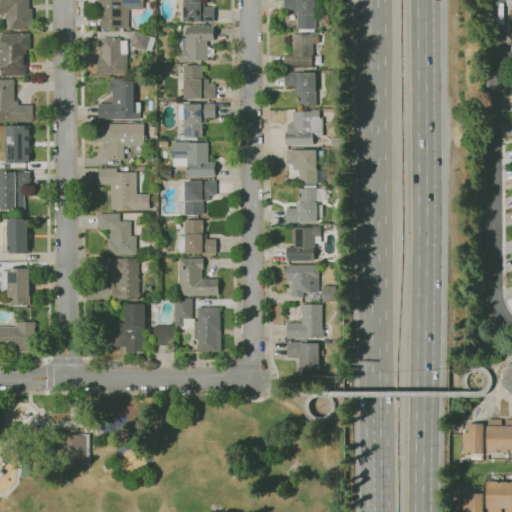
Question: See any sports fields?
No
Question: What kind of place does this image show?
residential area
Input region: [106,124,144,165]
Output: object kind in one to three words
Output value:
house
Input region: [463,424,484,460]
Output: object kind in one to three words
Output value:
building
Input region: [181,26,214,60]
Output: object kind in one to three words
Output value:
house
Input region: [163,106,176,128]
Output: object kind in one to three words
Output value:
swimming pool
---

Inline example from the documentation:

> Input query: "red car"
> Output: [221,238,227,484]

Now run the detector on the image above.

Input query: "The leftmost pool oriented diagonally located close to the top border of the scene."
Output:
[133,8,153,28]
